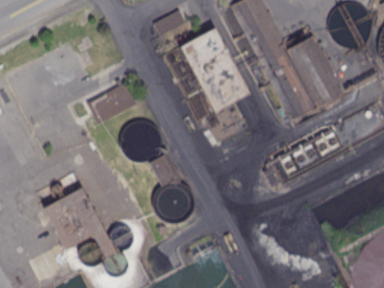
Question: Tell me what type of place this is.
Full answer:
What you see here is an industrial area.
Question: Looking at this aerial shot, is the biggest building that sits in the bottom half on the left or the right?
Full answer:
The biggest building that sits in the bottom half sits on the left side.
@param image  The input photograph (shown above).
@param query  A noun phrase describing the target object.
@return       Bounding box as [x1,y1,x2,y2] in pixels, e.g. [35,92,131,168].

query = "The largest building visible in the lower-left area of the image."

[42,189,118,262]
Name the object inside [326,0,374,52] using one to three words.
storage tank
